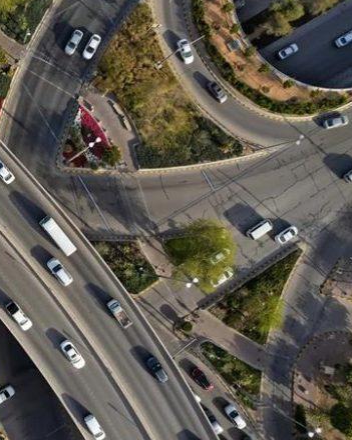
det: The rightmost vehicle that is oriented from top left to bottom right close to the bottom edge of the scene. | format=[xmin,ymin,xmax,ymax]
[223,402,247,429]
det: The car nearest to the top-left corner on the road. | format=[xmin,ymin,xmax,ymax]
[65,29,84,56]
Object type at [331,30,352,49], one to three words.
car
